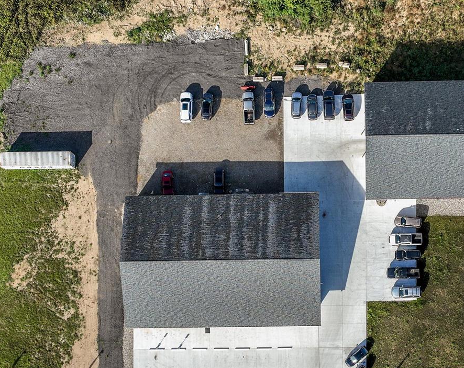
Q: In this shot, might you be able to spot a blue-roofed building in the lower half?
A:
No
